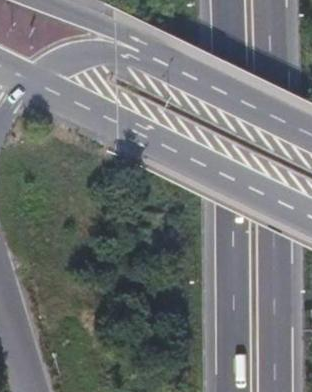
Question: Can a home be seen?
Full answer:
No, no home is visible in the scene.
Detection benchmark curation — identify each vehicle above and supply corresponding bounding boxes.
[235,352,246,386]
[6,84,26,104]
[234,212,244,222]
